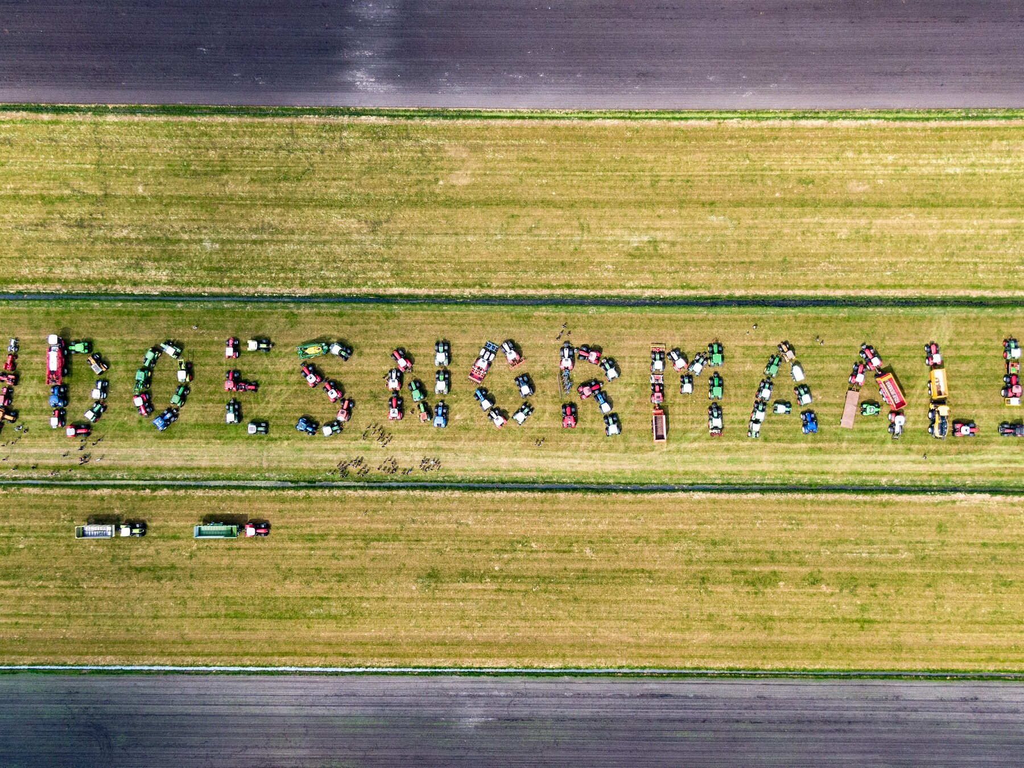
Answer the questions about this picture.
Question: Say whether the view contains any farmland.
Yes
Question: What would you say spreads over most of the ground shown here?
grass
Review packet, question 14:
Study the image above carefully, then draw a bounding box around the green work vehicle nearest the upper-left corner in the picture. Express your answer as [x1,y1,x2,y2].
[70,342,92,354]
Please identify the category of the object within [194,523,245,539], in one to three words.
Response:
trailer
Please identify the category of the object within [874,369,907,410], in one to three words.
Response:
trailer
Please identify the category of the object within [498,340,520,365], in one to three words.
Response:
work vehicle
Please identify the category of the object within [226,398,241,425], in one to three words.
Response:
work vehicle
